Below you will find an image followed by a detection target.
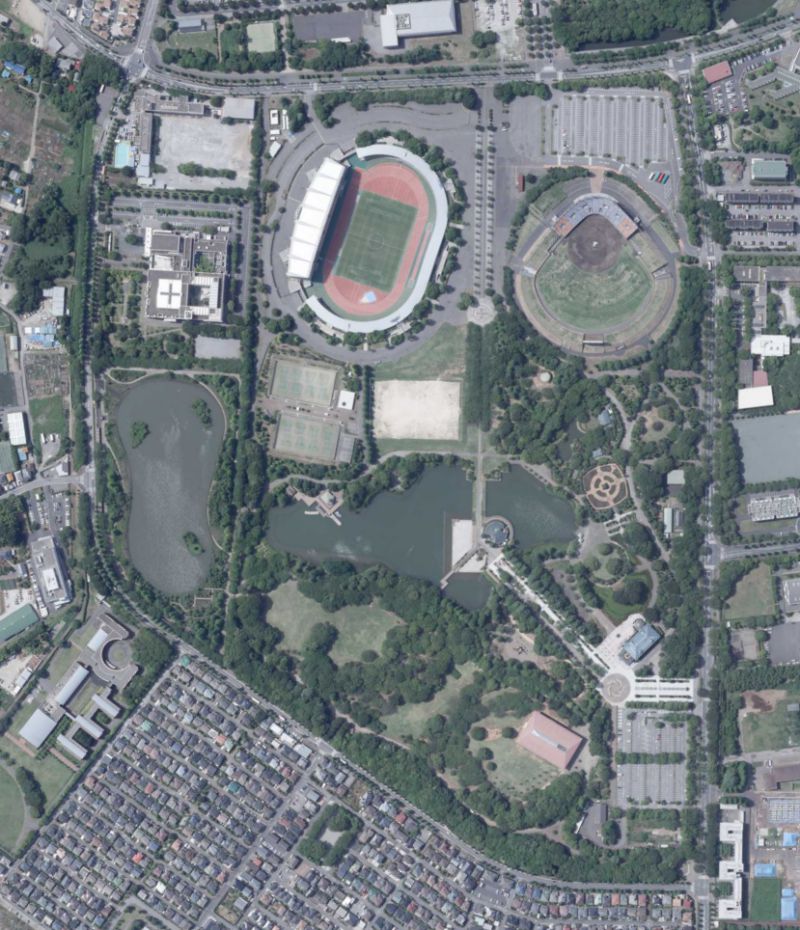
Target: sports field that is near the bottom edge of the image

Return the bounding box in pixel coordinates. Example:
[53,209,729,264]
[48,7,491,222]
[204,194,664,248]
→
[750,878,781,921]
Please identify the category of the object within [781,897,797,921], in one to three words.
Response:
shed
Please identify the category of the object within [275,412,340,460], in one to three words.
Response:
tennis court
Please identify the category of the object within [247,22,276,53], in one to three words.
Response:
tennis court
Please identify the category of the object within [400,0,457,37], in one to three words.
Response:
building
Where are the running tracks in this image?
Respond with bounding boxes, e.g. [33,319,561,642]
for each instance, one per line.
[323,165,430,317]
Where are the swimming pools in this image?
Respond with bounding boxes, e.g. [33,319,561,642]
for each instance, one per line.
[113,141,132,167]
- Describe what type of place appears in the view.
residential area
